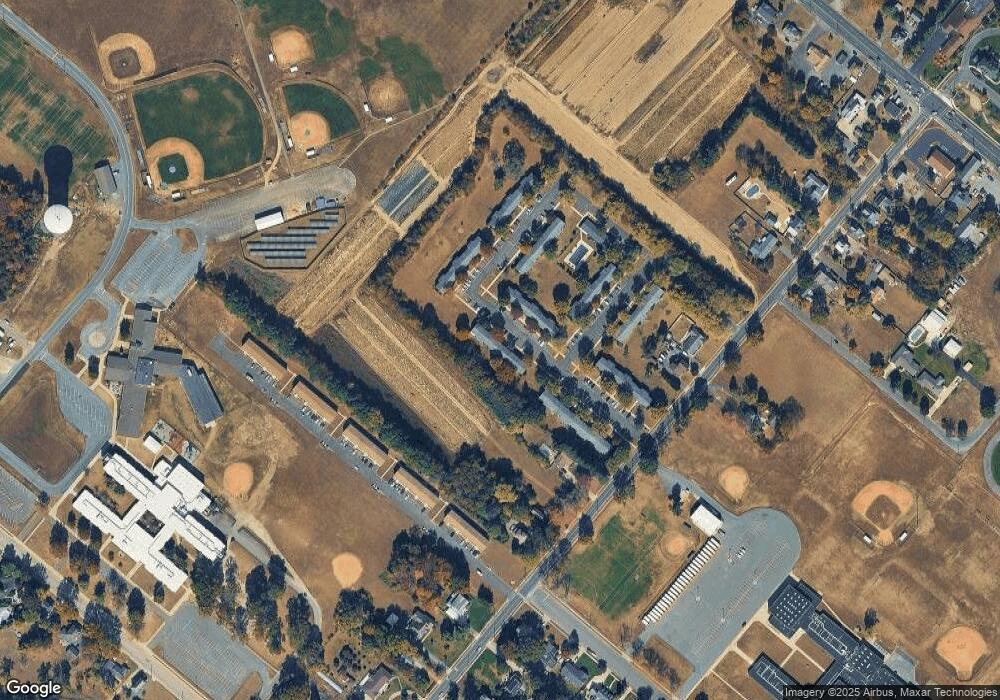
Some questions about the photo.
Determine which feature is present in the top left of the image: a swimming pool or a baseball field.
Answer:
baseball field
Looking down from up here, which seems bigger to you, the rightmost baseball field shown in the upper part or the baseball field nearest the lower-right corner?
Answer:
the baseball field nearest the lower-right corner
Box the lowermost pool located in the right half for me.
[909,325,926,343]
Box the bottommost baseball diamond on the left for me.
[335,554,362,587]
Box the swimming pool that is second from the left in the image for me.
[744,184,761,199]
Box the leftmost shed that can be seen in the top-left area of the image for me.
[96,163,116,193]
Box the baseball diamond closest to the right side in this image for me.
[937,627,989,680]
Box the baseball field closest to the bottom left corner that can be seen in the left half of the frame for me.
[226,463,252,496]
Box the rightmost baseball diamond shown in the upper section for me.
[371,78,403,111]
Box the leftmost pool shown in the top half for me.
[564,241,594,269]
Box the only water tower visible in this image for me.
[44,204,72,233]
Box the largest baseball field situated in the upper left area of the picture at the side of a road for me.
[132,72,268,193]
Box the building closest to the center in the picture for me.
[471,323,527,375]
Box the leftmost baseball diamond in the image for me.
[100,33,154,86]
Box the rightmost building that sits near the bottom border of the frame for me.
[749,581,928,700]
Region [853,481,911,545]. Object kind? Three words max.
baseball field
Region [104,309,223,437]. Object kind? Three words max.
building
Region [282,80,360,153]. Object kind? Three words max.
baseball field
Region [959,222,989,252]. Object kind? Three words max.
barn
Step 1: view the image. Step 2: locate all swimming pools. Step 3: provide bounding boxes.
[909,325,926,343]
[744,184,761,199]
[564,241,594,269]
